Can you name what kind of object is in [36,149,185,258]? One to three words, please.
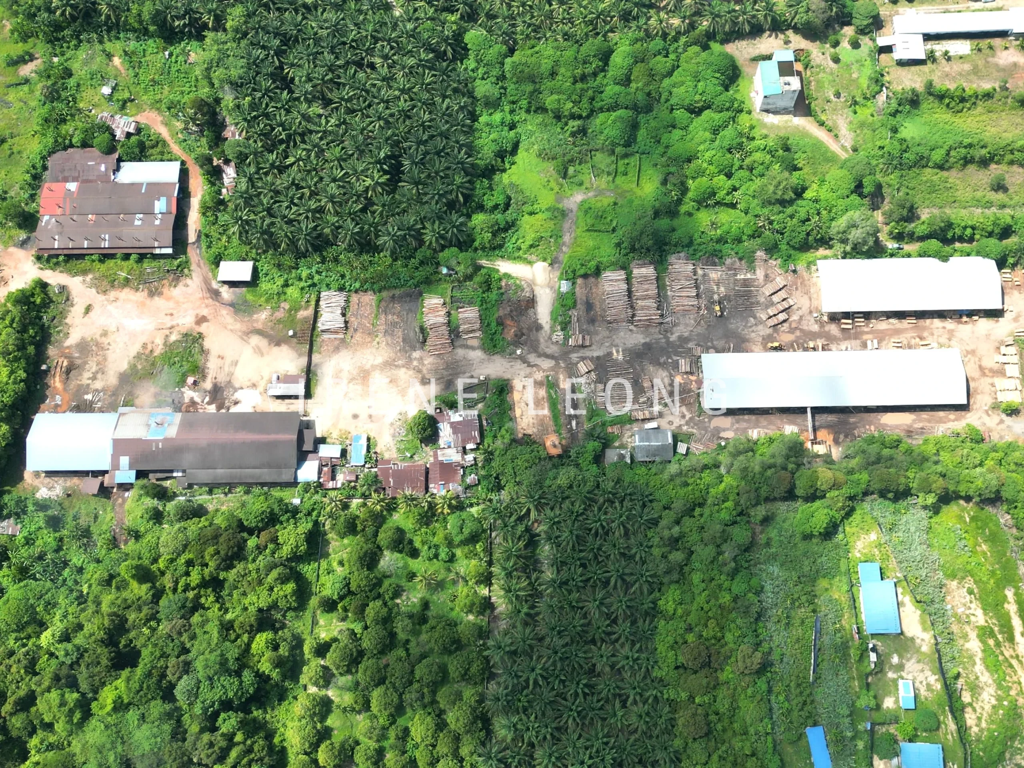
building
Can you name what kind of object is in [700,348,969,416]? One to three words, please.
building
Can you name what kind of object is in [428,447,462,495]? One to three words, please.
house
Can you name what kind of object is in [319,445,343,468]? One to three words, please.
shed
